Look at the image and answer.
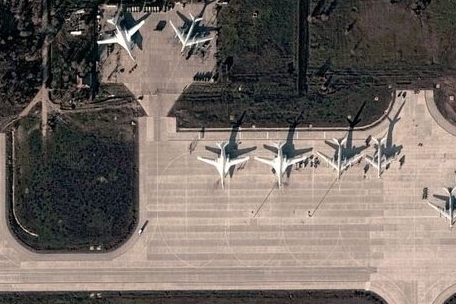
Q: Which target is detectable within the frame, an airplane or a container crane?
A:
airplane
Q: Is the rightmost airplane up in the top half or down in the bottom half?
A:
bottom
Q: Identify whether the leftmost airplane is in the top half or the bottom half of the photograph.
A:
top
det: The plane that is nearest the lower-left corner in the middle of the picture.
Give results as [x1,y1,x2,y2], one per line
[197,139,249,188]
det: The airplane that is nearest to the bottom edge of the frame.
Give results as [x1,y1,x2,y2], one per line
[427,184,456,228]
